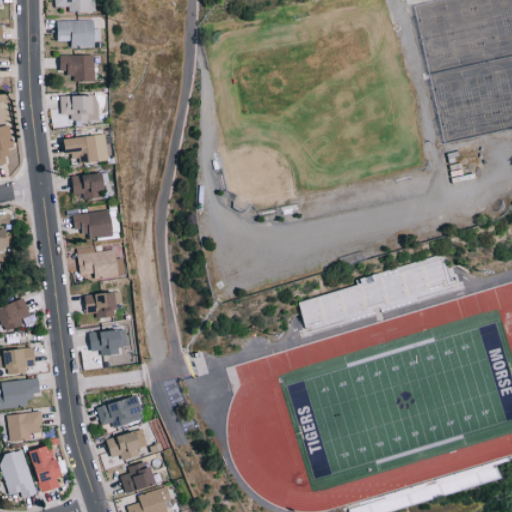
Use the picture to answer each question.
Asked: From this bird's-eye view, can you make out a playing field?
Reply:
Yes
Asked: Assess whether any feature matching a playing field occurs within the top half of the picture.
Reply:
Yes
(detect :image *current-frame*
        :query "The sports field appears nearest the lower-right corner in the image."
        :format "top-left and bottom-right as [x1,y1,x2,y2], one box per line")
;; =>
[280,311,512,488]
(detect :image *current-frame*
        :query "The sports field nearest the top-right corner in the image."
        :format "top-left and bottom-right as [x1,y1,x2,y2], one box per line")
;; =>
[203,0,422,209]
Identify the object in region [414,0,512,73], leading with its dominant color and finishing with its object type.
gray sports court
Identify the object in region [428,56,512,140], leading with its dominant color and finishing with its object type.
gray sports court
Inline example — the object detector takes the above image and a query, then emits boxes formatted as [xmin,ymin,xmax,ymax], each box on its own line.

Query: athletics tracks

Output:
[227,280,512,511]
